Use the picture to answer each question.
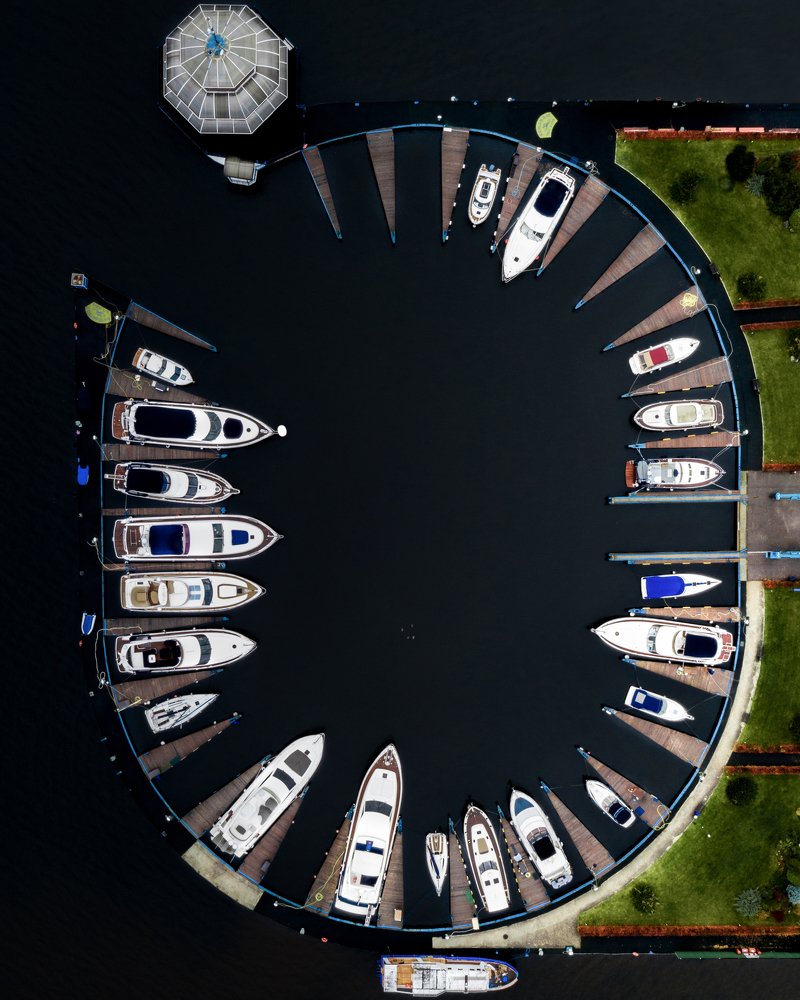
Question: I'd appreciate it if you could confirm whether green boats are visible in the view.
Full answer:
No, this view has no green boat in it.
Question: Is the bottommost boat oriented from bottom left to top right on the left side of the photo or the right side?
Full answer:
The bottommost boat oriented from bottom left to top right appears in the left half of the scene.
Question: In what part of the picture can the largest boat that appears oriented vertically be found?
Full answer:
The largest boat that appears oriented vertically is located in the bottom region of the scene.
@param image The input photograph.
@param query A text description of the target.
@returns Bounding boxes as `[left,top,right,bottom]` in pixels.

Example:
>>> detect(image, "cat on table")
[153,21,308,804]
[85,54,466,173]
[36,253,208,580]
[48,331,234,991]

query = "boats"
[426,831,449,898]
[630,338,702,374]
[115,626,259,673]
[120,569,268,613]
[465,805,510,912]
[503,167,574,283]
[133,349,193,387]
[146,694,219,733]
[624,687,694,722]
[336,741,401,926]
[212,733,324,862]
[625,455,728,490]
[469,165,501,228]
[112,397,276,451]
[632,397,724,433]
[587,781,636,827]
[112,515,281,562]
[105,463,235,503]
[511,788,572,888]
[639,570,724,599]
[592,617,736,668]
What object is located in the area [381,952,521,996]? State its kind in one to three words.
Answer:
vessel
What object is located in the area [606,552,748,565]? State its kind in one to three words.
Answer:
pier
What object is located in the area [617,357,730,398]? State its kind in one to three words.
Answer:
pier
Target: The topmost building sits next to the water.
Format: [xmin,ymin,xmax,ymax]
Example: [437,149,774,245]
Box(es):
[163,6,295,138]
